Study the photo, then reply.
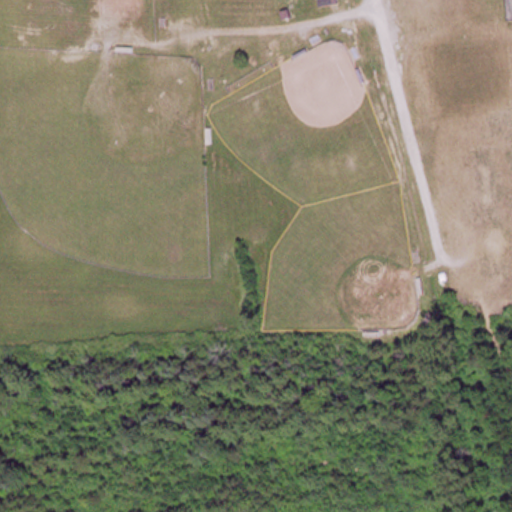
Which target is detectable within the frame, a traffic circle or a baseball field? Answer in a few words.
baseball field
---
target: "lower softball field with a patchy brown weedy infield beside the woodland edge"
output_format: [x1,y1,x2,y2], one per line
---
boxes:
[264,182,418,331]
